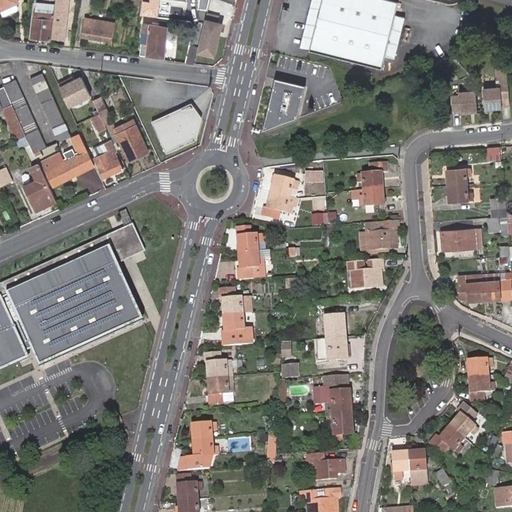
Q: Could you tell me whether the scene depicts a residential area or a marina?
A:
residential area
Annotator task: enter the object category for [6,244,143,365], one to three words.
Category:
building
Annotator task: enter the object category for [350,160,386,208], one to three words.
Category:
house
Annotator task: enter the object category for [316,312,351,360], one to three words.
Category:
house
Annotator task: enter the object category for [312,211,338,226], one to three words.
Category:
shed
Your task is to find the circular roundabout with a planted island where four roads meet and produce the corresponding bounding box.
[180,151,250,218]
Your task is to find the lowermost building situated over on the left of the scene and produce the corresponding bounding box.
[174,470,204,512]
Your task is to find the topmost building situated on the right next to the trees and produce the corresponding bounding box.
[300,0,404,71]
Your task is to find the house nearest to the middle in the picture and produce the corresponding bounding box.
[236,224,266,282]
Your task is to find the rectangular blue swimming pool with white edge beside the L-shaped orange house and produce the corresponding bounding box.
[228,436,252,453]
